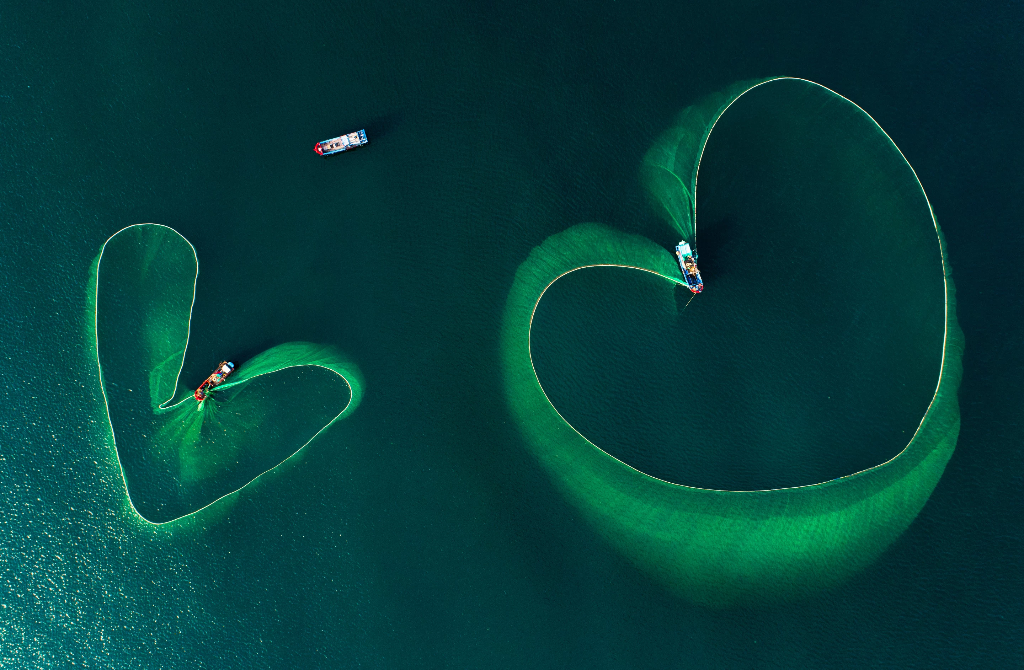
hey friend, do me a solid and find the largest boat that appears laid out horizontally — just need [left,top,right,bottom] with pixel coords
[312,130,368,154]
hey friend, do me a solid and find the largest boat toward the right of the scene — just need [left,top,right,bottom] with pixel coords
[676,243,703,308]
